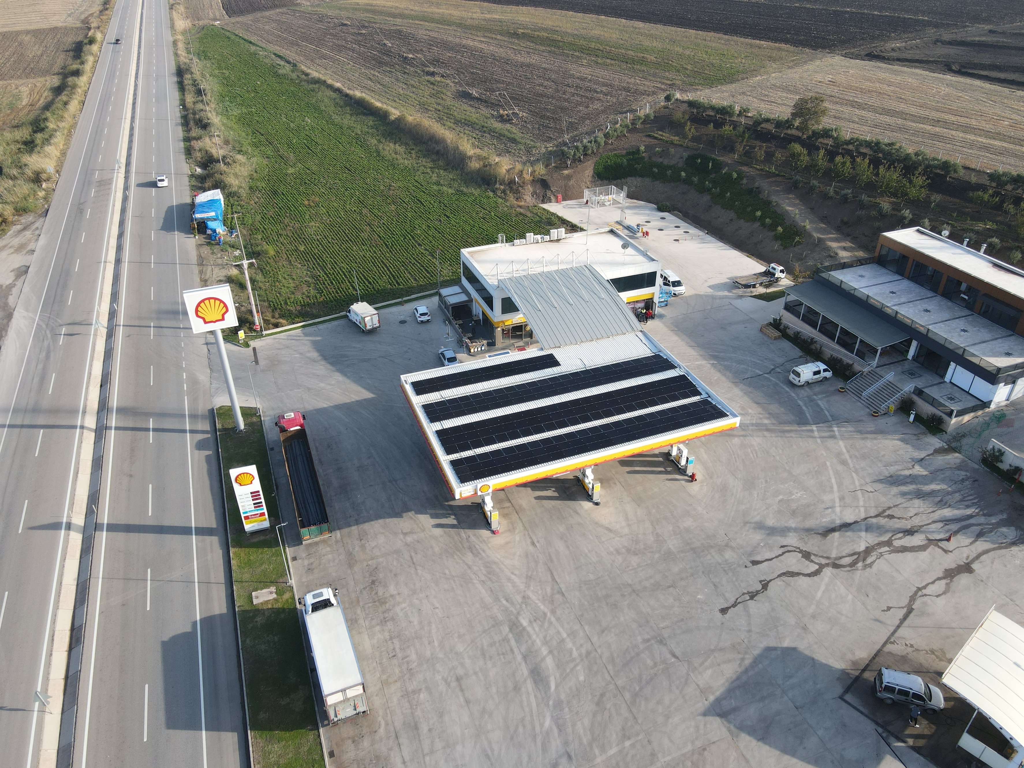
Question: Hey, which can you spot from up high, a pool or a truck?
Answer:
truck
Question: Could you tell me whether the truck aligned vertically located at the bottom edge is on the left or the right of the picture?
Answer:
left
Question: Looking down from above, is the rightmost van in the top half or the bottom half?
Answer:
bottom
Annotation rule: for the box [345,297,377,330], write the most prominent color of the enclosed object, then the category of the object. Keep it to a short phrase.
white van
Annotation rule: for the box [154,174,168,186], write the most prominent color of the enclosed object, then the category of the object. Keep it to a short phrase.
white vehicle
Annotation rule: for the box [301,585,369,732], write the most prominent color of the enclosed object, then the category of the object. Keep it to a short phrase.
white truck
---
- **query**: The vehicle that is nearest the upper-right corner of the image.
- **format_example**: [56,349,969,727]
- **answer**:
[729,264,788,290]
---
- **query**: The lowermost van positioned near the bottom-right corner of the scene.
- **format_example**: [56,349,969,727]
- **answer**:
[874,667,947,716]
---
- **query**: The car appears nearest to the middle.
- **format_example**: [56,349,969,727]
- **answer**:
[434,342,462,365]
